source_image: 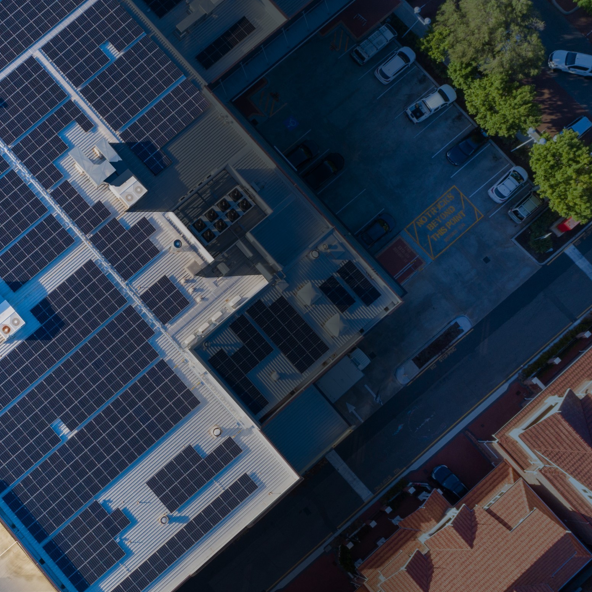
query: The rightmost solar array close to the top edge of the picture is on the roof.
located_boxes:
[195,17,256,71]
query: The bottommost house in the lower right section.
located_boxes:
[352,459,592,592]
